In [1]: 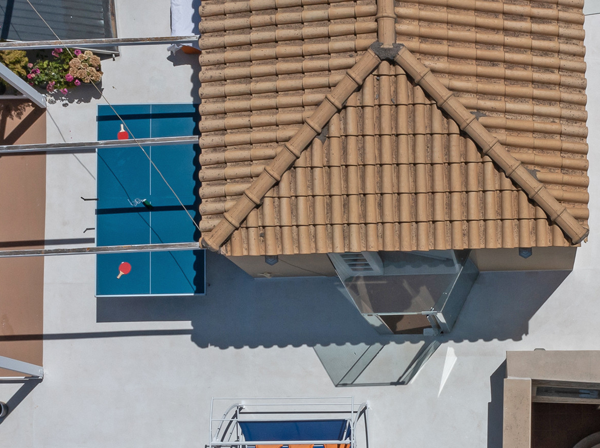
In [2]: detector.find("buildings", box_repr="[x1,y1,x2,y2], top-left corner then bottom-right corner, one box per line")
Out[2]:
[531,381,600,409]
[192,0,594,273]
